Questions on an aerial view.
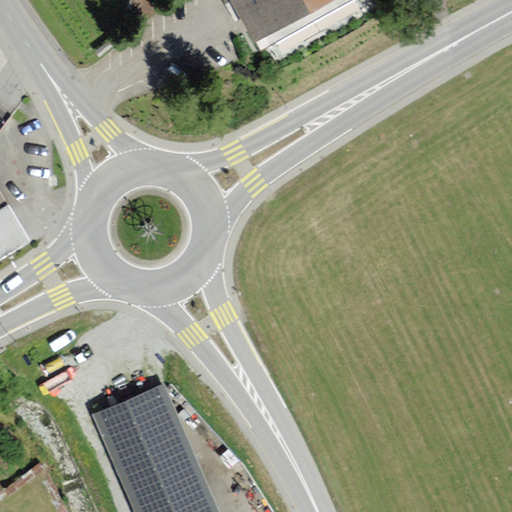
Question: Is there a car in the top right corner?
No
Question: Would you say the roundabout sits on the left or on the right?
left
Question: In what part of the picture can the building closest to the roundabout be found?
left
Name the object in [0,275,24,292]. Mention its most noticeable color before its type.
white vehicle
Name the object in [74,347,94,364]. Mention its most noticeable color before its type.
white work vehicle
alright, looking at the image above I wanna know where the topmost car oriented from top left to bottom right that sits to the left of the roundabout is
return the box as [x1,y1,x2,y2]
[5,181,25,200]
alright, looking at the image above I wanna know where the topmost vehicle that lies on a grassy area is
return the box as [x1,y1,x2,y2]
[49,331,76,352]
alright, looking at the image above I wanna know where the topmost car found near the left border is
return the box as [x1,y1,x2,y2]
[20,120,42,134]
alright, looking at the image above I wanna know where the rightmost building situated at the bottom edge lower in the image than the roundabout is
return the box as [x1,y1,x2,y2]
[92,384,220,512]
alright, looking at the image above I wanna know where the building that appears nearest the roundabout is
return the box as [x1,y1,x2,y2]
[0,204,30,260]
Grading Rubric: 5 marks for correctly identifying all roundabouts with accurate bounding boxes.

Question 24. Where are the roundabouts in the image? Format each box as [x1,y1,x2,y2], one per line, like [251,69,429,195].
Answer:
[70,147,230,308]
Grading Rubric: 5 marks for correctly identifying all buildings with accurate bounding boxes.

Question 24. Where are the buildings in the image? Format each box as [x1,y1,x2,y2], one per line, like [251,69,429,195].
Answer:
[0,464,64,512]
[92,384,220,512]
[0,204,30,260]
[226,0,370,61]
[92,40,115,60]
